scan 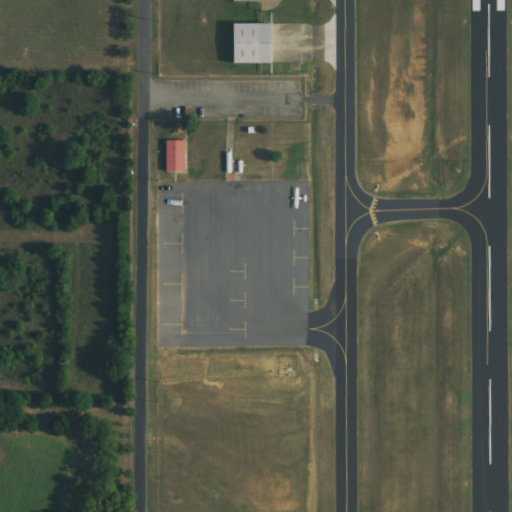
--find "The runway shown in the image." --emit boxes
[452,0,508,512]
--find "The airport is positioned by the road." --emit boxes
[158,0,508,512]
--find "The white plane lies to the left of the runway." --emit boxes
[292,187,308,209]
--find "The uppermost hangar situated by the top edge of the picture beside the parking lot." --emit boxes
[234,12,272,74]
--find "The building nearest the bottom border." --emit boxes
[166,140,185,172]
